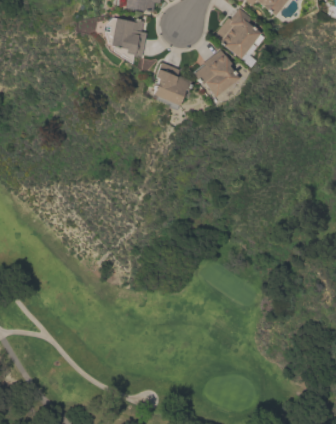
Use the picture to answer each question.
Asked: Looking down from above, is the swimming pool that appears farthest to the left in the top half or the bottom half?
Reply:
top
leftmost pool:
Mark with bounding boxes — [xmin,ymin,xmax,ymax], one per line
[276,0,302,22]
